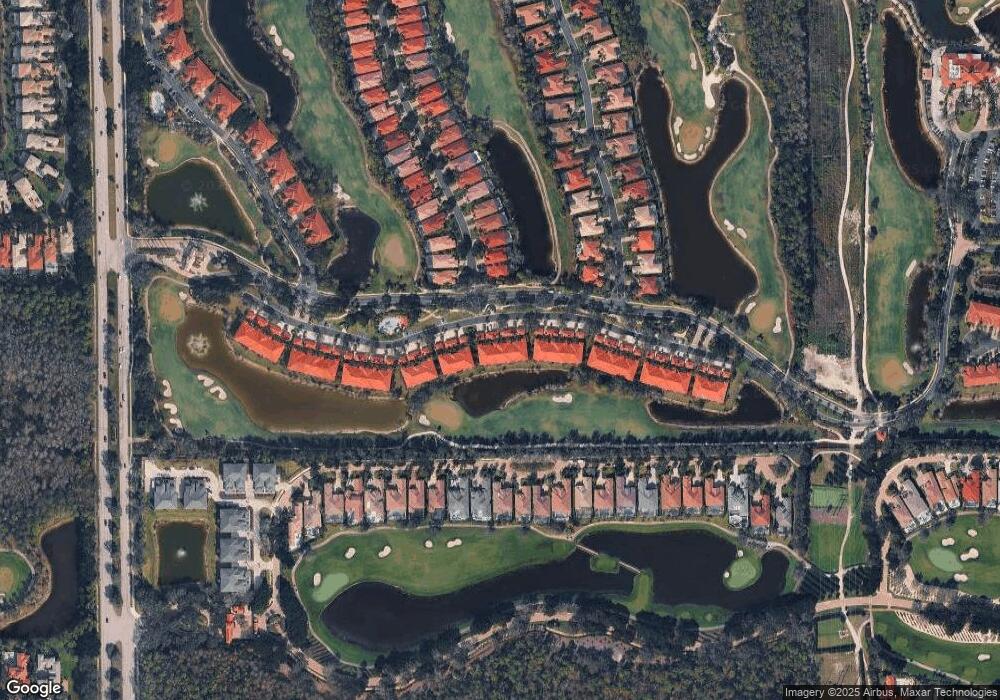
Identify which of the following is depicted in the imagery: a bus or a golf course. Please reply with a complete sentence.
This aerial view contains a golf course.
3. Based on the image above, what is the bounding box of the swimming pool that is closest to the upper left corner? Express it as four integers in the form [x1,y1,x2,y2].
[149,94,165,113]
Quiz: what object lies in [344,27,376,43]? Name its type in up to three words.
house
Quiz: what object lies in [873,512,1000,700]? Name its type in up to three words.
golf course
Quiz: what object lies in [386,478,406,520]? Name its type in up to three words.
house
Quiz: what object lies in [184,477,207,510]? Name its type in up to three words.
building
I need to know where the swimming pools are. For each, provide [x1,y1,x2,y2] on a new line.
[378,315,401,335]
[149,94,165,113]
